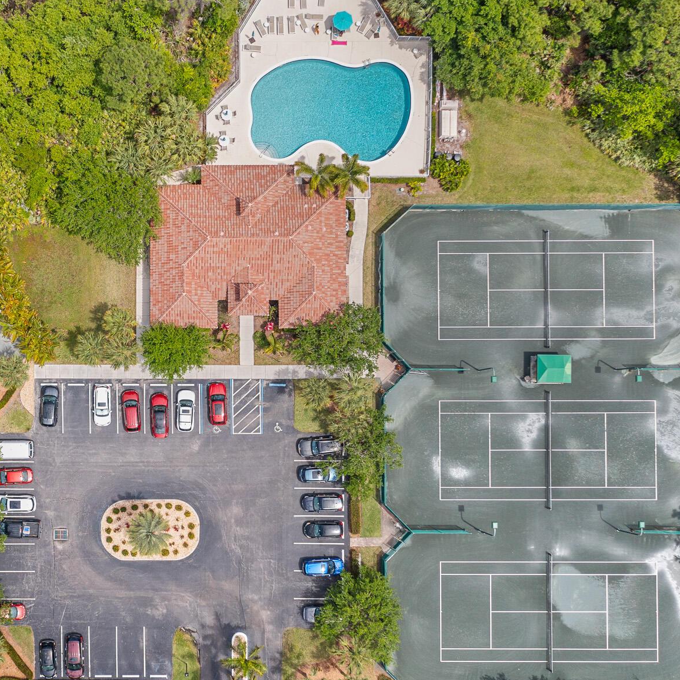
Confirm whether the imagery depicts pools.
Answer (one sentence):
Yes, a pool appears in the view.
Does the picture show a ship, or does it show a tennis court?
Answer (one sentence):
Visible in the photo is a tennis court.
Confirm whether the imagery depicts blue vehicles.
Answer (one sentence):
Yes, looking at the shot, I can spot a blue vehicle.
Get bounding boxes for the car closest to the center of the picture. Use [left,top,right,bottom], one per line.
[296,437,342,458]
